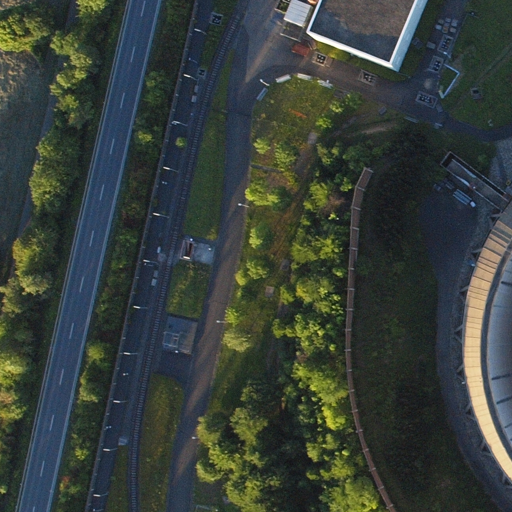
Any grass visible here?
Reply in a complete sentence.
Yes, the picture does contain grass.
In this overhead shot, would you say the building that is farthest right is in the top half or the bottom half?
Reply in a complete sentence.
It is in the top half that the building that is farthest right appears.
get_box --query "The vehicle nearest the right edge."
[449,188,475,209]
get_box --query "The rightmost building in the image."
[307,0,427,71]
